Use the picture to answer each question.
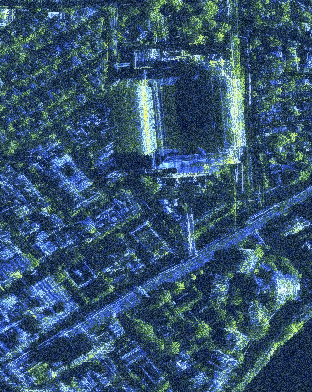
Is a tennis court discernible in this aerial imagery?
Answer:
No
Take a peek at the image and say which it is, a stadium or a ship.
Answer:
stadium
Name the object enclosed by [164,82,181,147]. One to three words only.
sports field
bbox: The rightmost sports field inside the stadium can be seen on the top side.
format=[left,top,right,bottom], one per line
[179,81,224,146]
